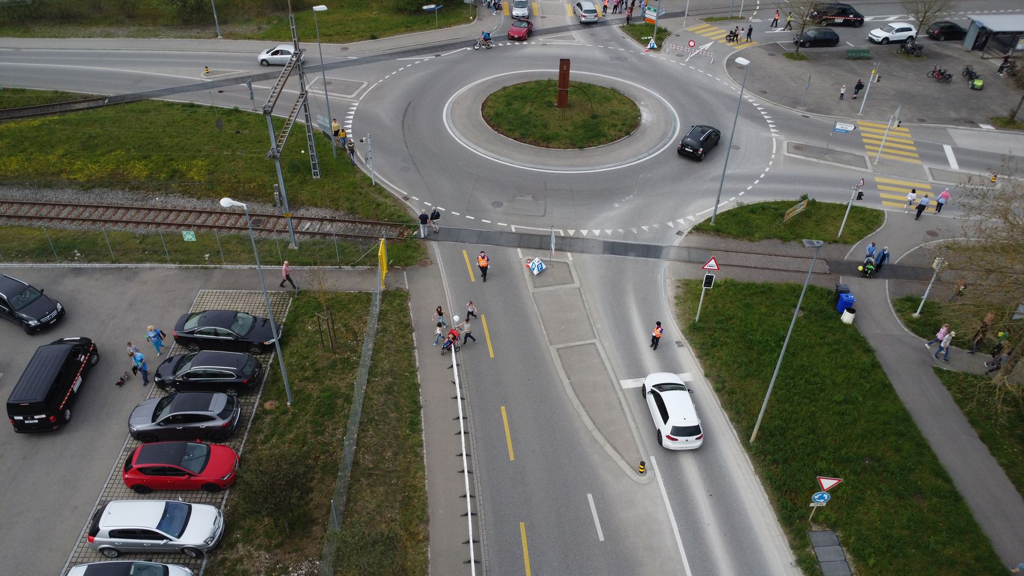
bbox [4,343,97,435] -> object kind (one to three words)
van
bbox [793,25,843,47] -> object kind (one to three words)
car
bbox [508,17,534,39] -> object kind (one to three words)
car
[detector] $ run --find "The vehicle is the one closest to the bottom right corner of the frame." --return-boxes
[642,372,706,455]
